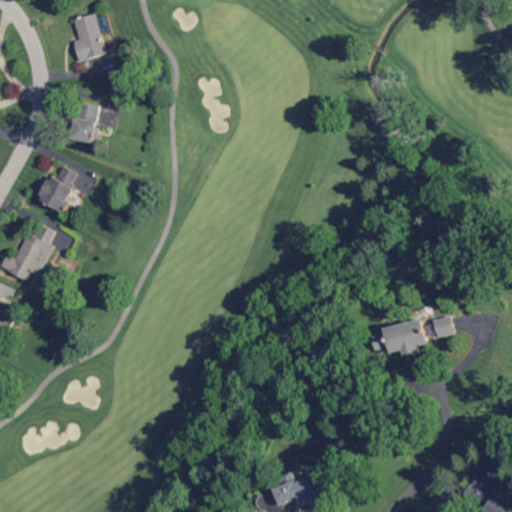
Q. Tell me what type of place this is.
golf course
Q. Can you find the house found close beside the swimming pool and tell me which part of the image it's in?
top left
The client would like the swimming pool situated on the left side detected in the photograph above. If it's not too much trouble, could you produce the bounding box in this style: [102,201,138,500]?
[97,14,114,39]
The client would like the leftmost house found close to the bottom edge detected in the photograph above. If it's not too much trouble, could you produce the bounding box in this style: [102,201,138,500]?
[268,474,308,508]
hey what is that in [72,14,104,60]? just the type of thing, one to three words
house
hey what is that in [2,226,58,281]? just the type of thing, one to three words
house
